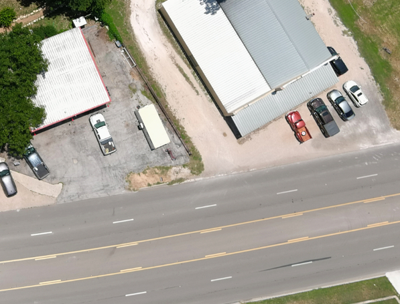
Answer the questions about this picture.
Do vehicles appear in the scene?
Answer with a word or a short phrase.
Yes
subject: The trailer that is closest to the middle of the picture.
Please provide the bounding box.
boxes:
[136,101,168,149]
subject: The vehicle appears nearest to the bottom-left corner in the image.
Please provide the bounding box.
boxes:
[0,161,16,197]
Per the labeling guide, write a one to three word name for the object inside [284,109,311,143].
truck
